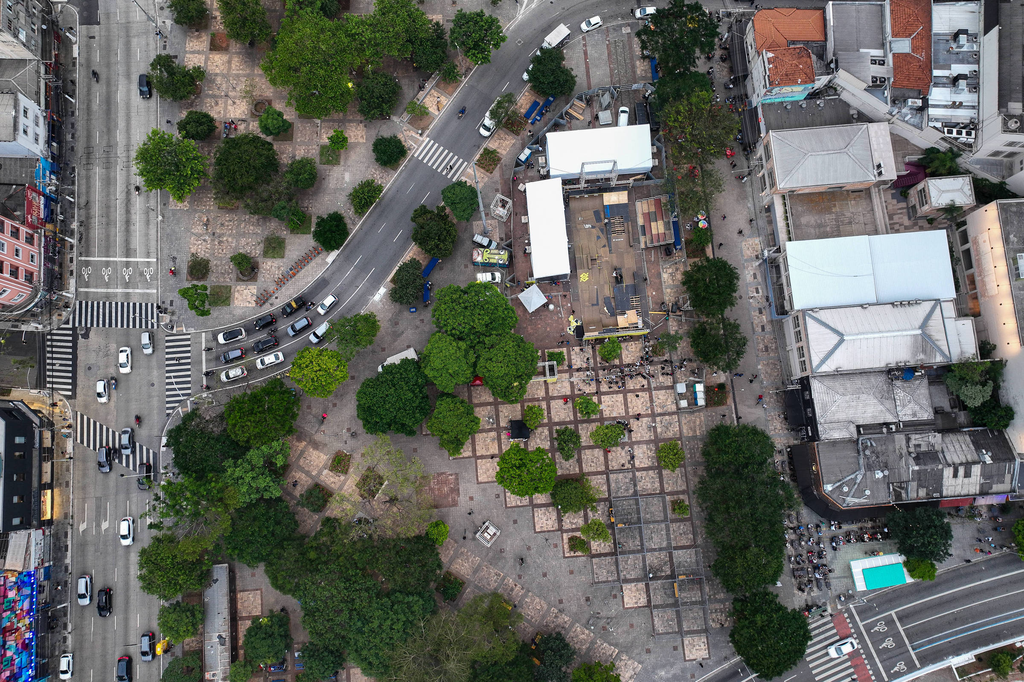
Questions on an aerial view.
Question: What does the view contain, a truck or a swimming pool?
truck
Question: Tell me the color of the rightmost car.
white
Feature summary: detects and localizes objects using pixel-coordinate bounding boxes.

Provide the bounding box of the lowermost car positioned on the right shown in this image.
[824,636,861,659]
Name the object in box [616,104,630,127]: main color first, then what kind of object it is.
white vehicle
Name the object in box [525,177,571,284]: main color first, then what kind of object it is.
white tent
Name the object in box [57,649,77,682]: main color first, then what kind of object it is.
white car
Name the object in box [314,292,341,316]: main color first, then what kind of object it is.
white car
